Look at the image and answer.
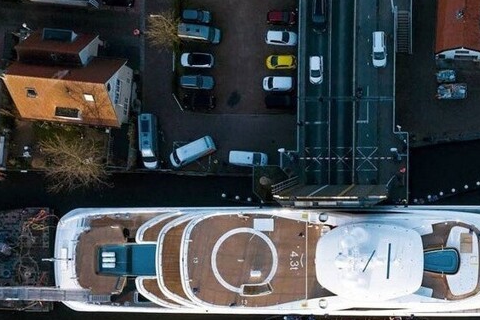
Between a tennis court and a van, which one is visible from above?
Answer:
van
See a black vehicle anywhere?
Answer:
Yes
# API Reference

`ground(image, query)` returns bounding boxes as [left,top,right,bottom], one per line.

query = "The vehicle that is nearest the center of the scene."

[227,150,271,168]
